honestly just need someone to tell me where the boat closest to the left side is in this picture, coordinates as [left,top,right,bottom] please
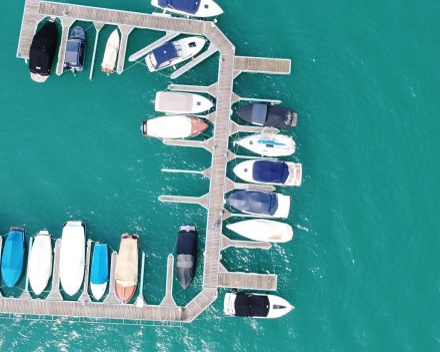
[1,225,26,287]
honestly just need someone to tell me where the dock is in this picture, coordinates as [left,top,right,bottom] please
[0,0,291,326]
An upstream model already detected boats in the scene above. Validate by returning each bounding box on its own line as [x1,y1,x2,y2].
[232,159,302,186]
[150,92,214,114]
[114,233,139,304]
[30,17,59,85]
[65,26,85,74]
[175,223,196,290]
[141,115,208,139]
[225,217,293,241]
[235,104,296,129]
[145,38,208,74]
[233,134,296,156]
[102,30,120,75]
[226,190,291,219]
[223,292,295,319]
[60,221,86,296]
[91,242,110,301]
[150,0,223,18]
[28,230,53,296]
[1,225,26,287]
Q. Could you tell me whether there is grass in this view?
No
